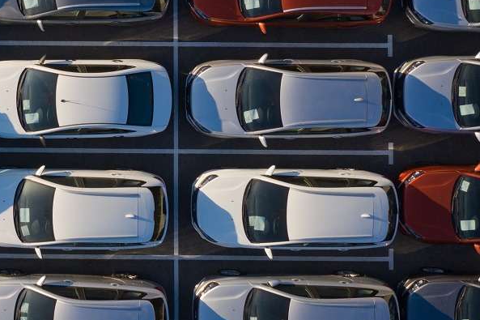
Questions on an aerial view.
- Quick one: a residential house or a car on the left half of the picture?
car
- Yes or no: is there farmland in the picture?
No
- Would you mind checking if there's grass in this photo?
No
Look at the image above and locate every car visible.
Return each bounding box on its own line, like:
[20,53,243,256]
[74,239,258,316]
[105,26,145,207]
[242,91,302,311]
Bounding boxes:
[193,265,397,320]
[393,160,480,252]
[0,164,167,260]
[186,0,388,33]
[396,264,480,320]
[388,48,480,144]
[0,0,167,32]
[185,52,390,148]
[191,164,396,259]
[0,266,168,320]
[0,52,172,148]
[400,0,480,31]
